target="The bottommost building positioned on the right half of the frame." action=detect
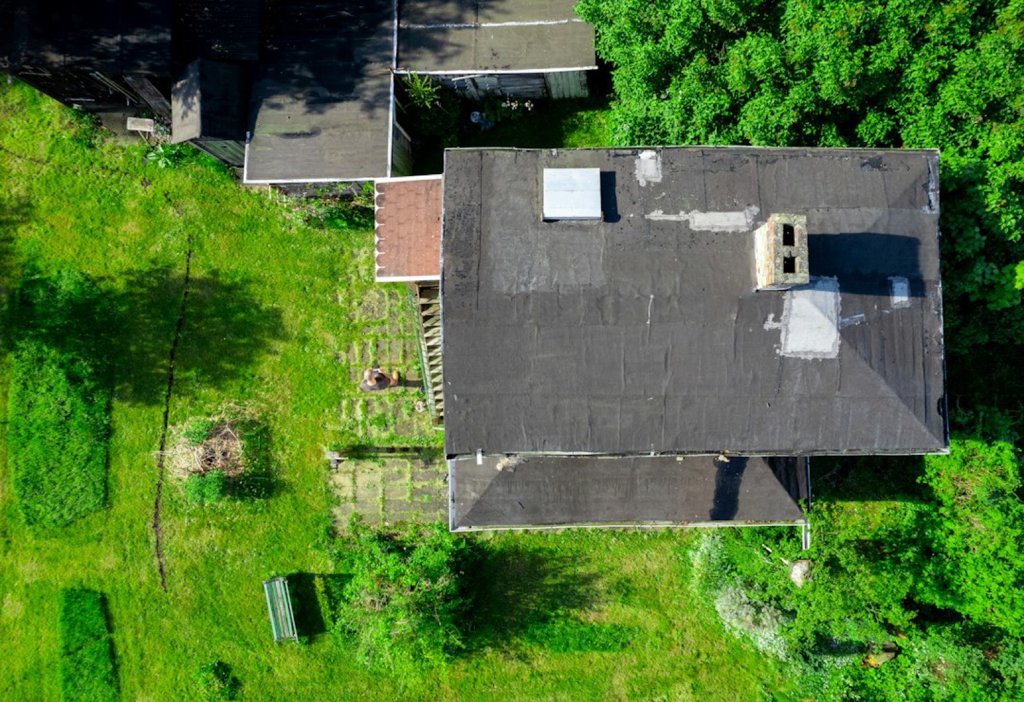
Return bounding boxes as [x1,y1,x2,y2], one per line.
[375,144,952,551]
